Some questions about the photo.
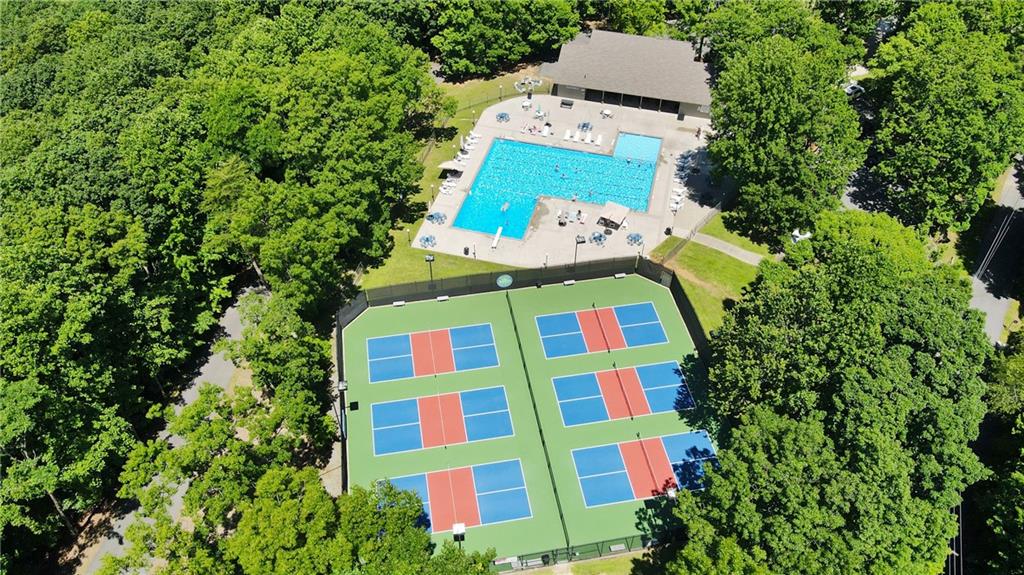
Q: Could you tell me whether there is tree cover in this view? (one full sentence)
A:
Yes, some tree cover is visible.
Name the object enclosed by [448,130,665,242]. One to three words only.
swimming pool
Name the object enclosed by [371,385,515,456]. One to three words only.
sports court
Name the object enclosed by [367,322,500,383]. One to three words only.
sports court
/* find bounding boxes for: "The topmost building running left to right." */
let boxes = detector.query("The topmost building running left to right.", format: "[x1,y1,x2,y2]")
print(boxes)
[551,30,713,117]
